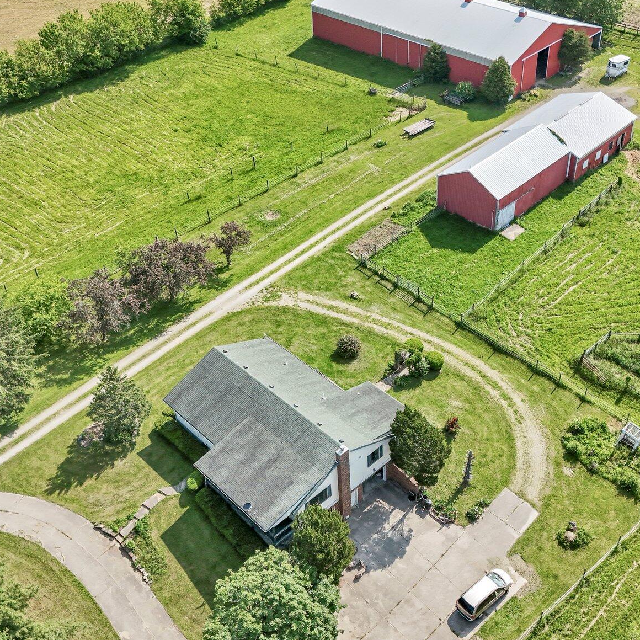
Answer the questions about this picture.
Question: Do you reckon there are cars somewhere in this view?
Yes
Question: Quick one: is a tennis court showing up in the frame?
No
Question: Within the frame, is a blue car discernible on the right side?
No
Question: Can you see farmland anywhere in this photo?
Yes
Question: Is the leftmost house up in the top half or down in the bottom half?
bottom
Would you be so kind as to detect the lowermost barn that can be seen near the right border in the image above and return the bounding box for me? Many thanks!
[436,90,640,231]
